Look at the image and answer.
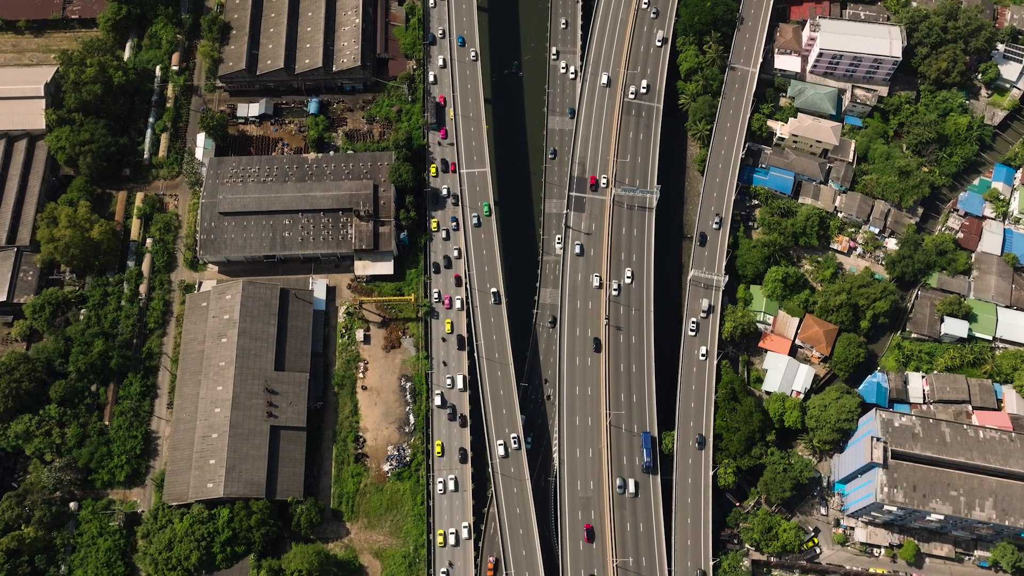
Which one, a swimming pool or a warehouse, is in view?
warehouse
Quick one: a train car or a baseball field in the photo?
train car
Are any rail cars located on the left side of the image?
Yes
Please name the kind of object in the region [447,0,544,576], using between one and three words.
overpass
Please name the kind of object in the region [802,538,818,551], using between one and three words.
vehicle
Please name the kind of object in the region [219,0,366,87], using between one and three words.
building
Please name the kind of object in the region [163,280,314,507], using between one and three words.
warehouse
